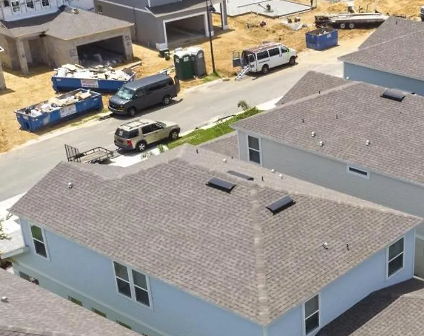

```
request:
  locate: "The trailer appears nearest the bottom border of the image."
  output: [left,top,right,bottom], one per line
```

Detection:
[65,135,120,163]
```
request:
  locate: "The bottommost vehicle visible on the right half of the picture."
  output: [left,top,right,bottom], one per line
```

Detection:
[239,40,305,74]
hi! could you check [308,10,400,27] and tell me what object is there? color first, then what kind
white trailer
